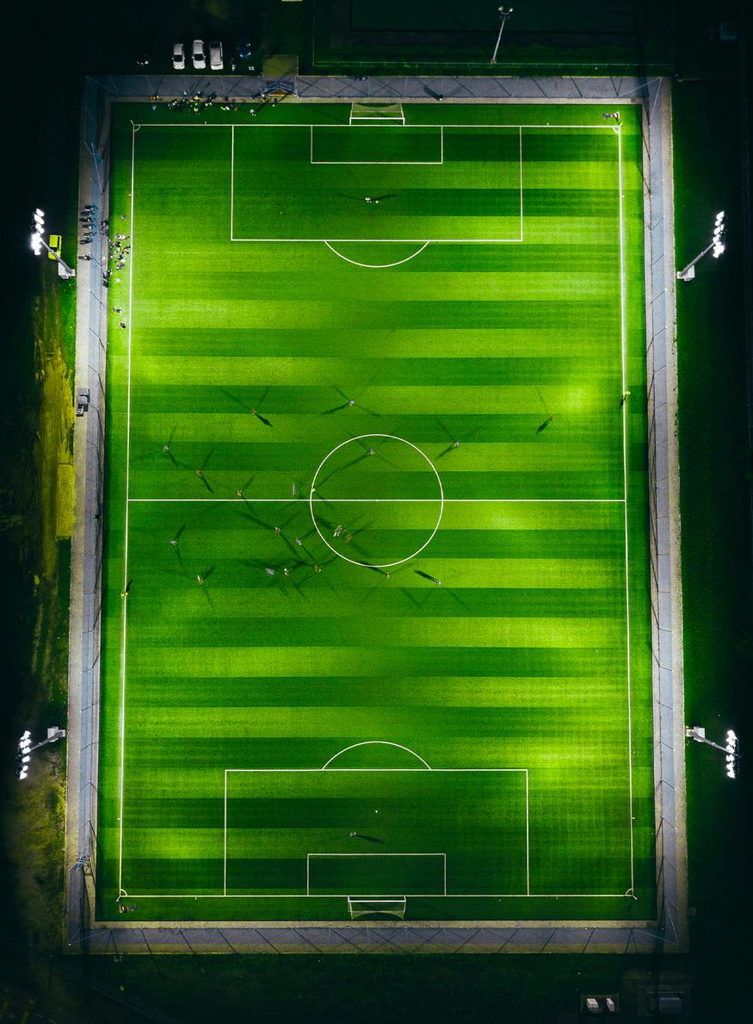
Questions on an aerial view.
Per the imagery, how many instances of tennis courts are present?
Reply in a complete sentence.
The count of tennis courts is 0.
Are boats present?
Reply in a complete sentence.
No, there isn't any boat down there.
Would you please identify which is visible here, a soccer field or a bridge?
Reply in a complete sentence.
I can see a soccer field in this picture.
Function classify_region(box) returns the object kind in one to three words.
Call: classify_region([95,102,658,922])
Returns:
soccer field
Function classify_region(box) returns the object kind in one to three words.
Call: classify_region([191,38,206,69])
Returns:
car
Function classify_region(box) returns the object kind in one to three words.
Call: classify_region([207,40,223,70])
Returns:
car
